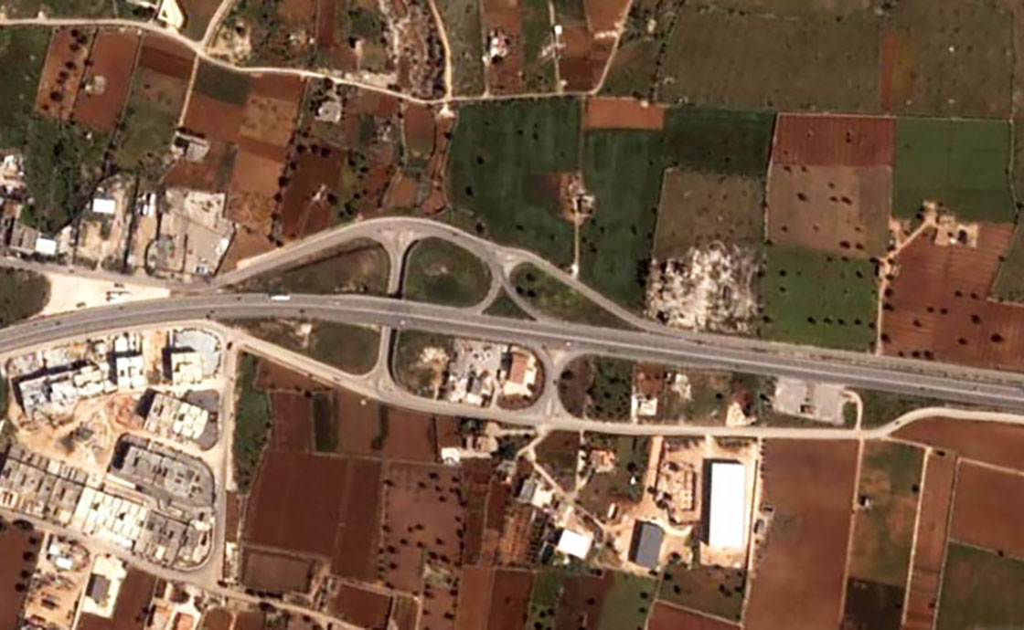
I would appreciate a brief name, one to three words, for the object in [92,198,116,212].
shed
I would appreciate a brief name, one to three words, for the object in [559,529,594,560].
building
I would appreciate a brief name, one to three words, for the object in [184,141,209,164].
house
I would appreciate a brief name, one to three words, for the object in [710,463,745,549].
building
